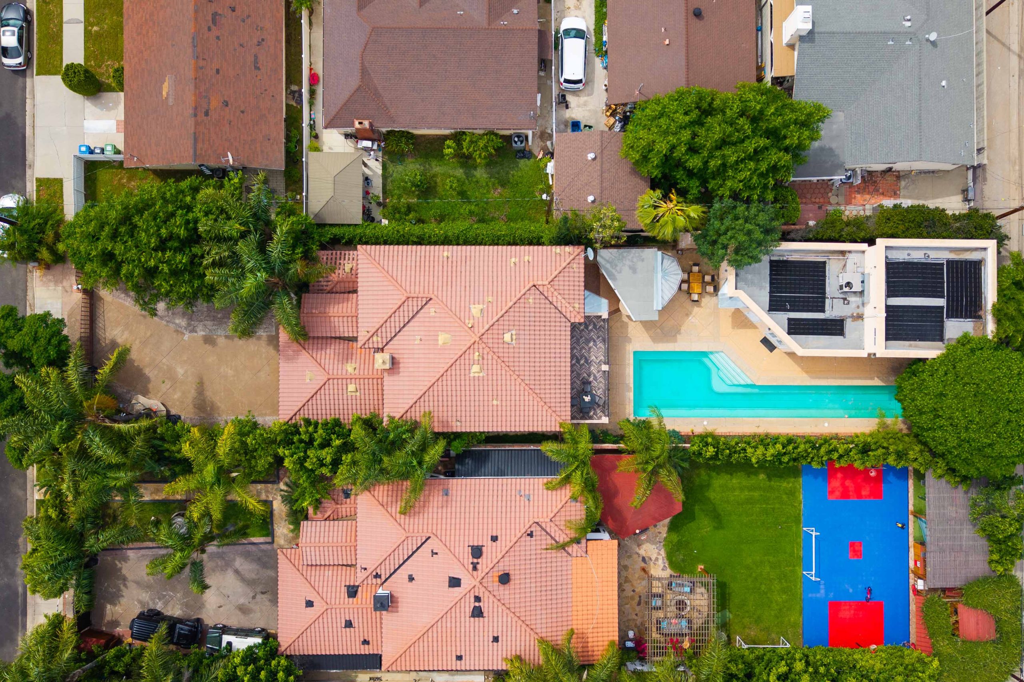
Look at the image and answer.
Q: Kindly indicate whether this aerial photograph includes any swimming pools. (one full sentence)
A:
Yes, I can see a swimming pool in this picture.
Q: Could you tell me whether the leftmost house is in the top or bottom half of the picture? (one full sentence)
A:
The top half of the photo is where the leftmost house is.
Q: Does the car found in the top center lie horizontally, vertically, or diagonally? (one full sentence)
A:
The car found in the top center is oriented vertically.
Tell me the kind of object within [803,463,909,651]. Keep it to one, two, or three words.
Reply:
sports court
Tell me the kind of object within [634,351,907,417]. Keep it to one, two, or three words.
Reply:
swimming pool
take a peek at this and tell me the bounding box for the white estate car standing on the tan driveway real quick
[557,19,591,92]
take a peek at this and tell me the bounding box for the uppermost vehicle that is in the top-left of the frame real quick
[0,3,36,75]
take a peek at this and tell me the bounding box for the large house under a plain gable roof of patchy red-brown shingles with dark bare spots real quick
[124,0,296,171]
